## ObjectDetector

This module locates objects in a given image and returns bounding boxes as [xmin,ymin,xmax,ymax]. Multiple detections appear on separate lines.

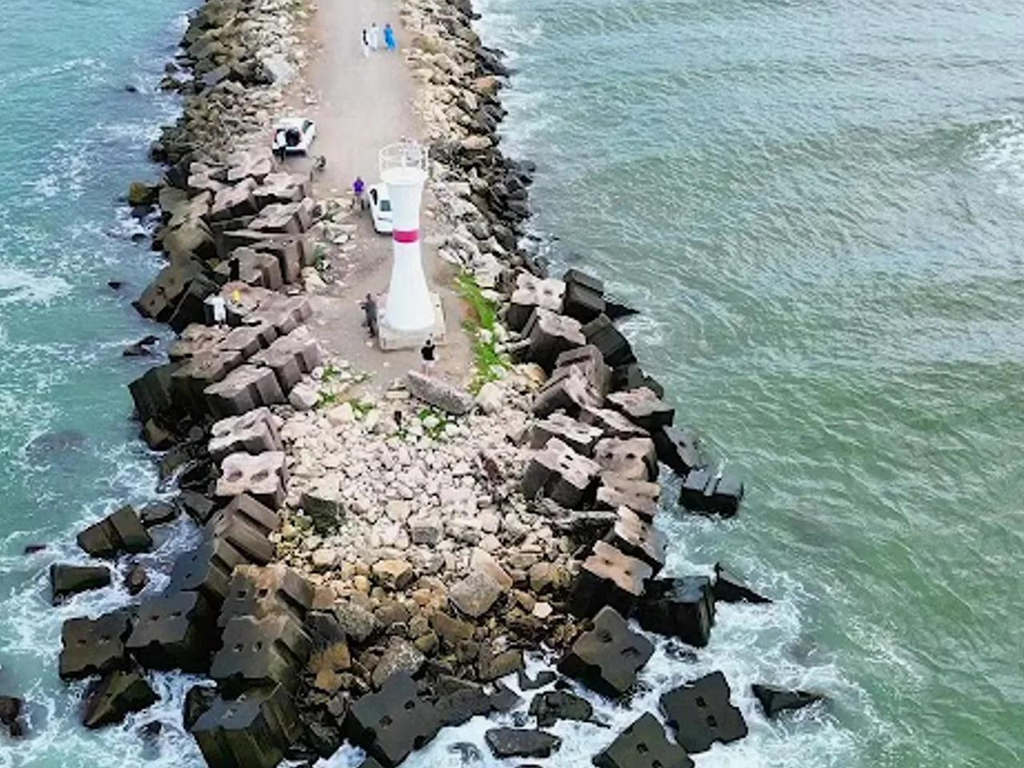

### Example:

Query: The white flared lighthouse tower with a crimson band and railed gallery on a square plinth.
[377,132,444,352]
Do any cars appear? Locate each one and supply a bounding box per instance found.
[371,187,395,236]
[270,114,322,157]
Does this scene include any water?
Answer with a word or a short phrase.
Yes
